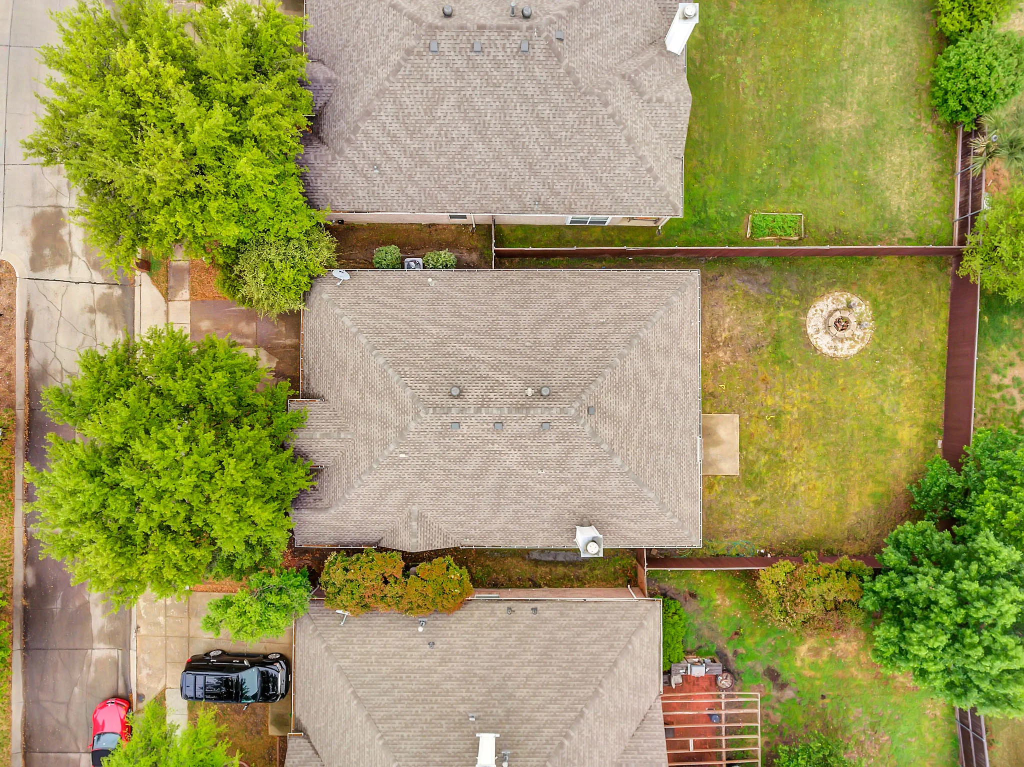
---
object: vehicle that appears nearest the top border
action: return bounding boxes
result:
[183,652,292,708]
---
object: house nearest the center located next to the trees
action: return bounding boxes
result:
[280,269,703,559]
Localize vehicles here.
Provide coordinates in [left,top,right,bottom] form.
[89,693,139,767]
[183,652,292,708]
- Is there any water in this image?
No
